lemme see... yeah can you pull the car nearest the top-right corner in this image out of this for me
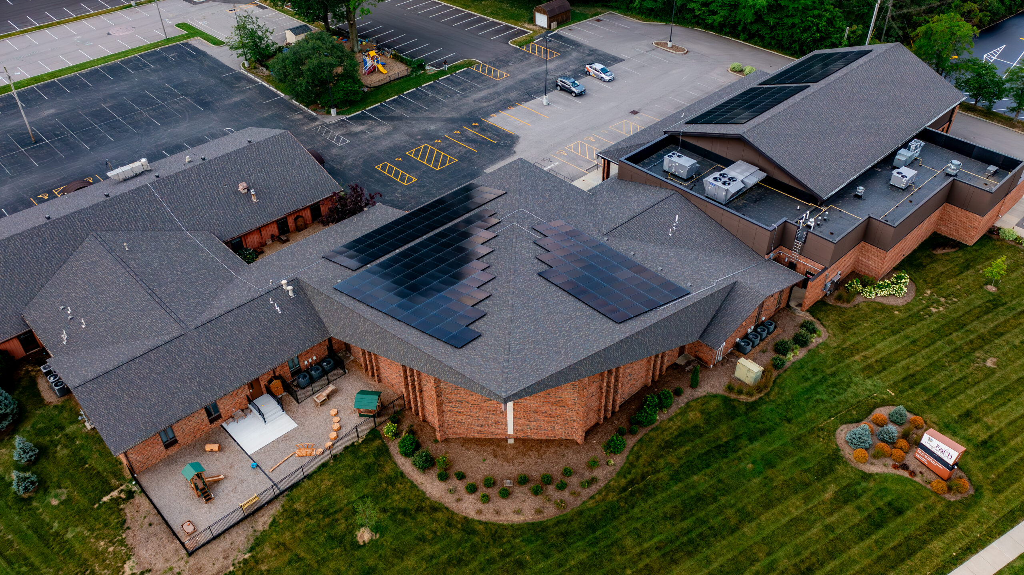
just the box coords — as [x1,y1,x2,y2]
[584,61,617,82]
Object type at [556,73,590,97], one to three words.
car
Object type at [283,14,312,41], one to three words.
shed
